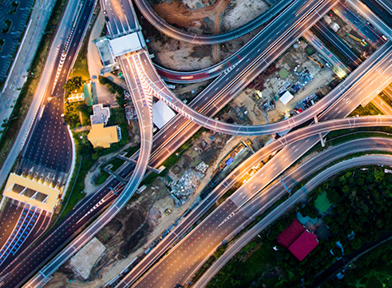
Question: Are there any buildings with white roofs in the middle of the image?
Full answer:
Yes, a building with a white roof shows up in the middle of the image.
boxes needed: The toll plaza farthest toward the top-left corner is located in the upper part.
[109,30,145,58]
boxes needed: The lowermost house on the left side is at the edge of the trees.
[92,123,117,147]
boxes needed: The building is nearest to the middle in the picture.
[151,99,176,130]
